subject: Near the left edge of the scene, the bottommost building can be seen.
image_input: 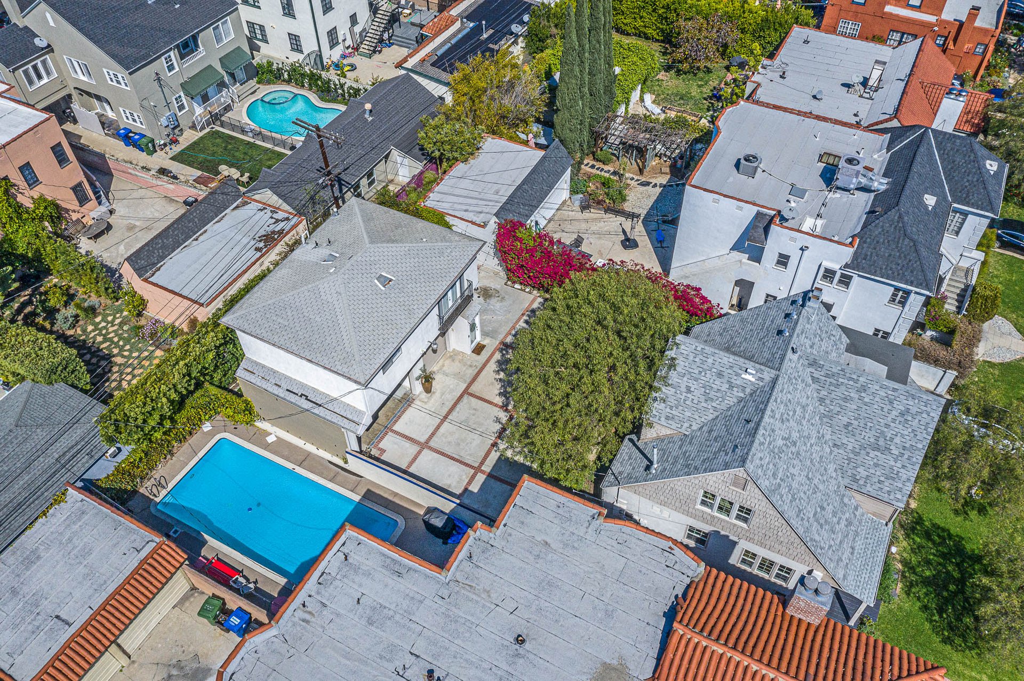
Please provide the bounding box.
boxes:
[0,484,189,681]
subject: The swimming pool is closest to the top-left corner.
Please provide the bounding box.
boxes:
[224,84,345,142]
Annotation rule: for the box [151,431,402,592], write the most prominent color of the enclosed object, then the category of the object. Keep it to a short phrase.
blue swimming pool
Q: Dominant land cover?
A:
buildings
